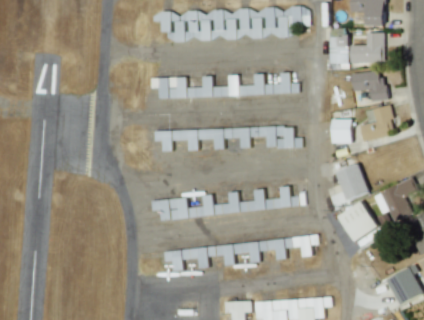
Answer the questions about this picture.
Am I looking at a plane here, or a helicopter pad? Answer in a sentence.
This aerial view contains a plane.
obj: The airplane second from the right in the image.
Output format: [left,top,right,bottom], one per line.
[234,256,258,272]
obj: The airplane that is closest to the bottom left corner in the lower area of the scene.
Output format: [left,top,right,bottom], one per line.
[157,263,180,282]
